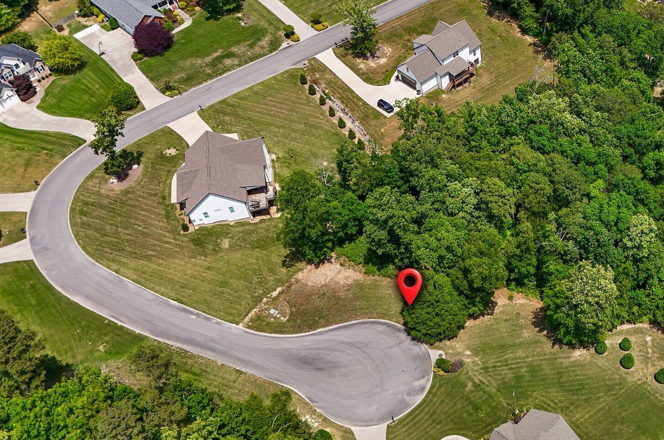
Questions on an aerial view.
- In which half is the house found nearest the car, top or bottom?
top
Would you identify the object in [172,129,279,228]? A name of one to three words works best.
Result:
house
